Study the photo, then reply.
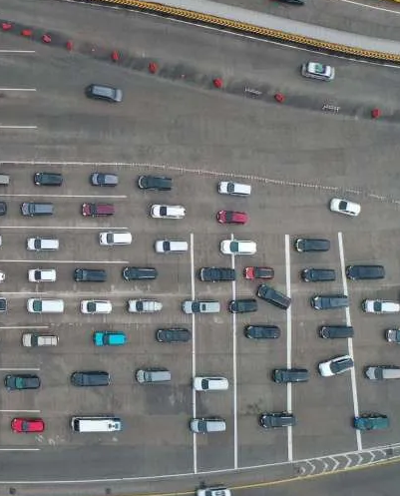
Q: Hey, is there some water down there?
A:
No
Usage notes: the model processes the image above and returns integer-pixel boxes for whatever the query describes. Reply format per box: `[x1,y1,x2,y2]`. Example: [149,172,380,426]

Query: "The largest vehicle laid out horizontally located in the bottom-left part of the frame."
[70,414,123,433]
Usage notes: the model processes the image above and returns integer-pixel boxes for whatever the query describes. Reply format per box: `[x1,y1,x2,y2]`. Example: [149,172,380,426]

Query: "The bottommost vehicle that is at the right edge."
[352,413,392,430]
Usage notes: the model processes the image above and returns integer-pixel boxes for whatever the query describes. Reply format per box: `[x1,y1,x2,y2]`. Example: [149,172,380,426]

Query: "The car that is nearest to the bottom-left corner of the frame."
[11,416,46,433]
